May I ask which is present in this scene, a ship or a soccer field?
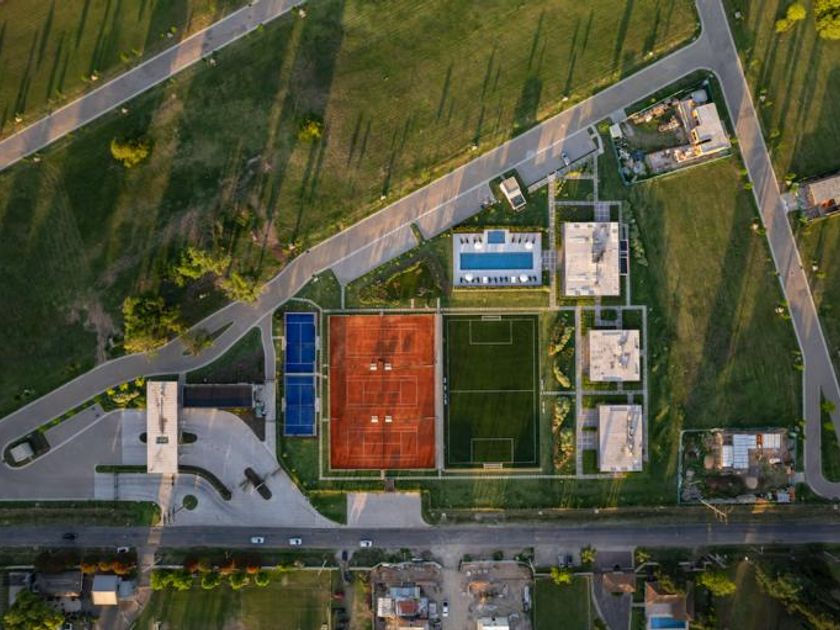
soccer field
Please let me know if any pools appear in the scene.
Yes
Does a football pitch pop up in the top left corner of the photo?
No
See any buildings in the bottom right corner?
Yes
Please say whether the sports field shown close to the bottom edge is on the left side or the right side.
left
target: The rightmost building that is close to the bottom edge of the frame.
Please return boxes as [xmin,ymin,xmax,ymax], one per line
[646,582,694,622]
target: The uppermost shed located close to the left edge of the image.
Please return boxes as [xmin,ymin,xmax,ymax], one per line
[11,441,39,463]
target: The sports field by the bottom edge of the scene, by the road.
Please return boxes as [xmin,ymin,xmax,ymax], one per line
[143,570,330,630]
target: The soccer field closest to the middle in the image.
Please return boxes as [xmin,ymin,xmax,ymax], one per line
[443,313,543,473]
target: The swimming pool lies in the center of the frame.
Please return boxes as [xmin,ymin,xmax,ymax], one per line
[453,231,541,286]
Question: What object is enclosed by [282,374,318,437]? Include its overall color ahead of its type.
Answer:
blue sports court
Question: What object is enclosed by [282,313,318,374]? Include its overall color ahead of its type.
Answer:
blue sports court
